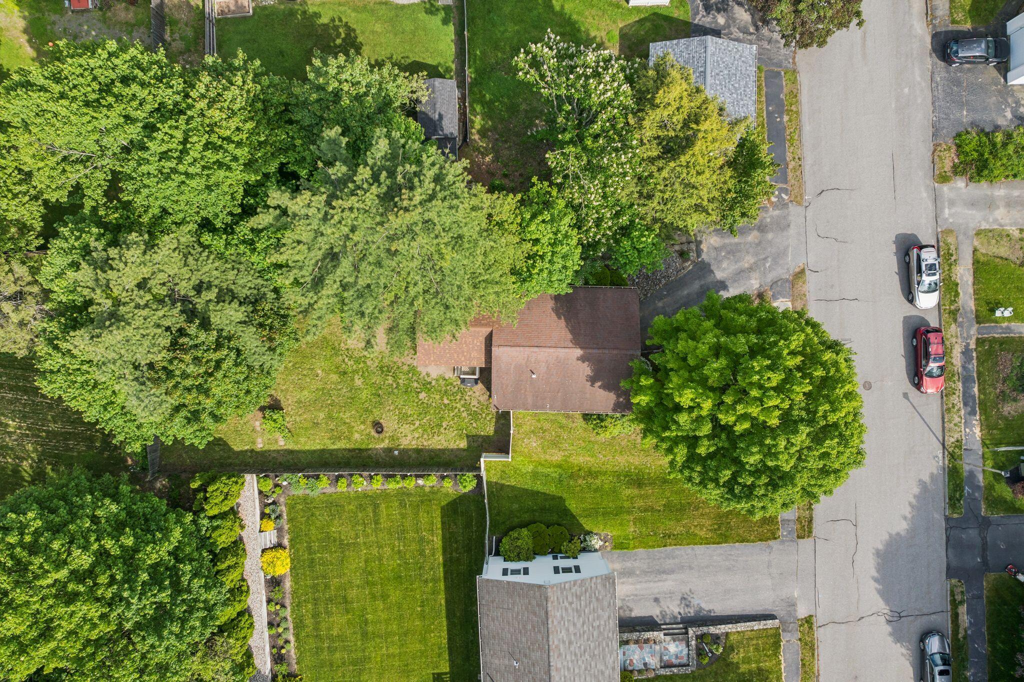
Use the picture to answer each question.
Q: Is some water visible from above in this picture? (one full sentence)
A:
No, water can't be seen anywhere here.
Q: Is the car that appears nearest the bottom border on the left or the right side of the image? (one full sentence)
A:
The car that appears nearest the bottom border sits on the right side.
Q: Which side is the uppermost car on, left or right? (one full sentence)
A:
The uppermost car appears in the right half of the scene.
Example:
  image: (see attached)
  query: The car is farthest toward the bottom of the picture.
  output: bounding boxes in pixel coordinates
[919,630,956,682]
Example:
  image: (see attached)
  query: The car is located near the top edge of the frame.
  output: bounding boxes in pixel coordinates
[942,32,1009,68]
